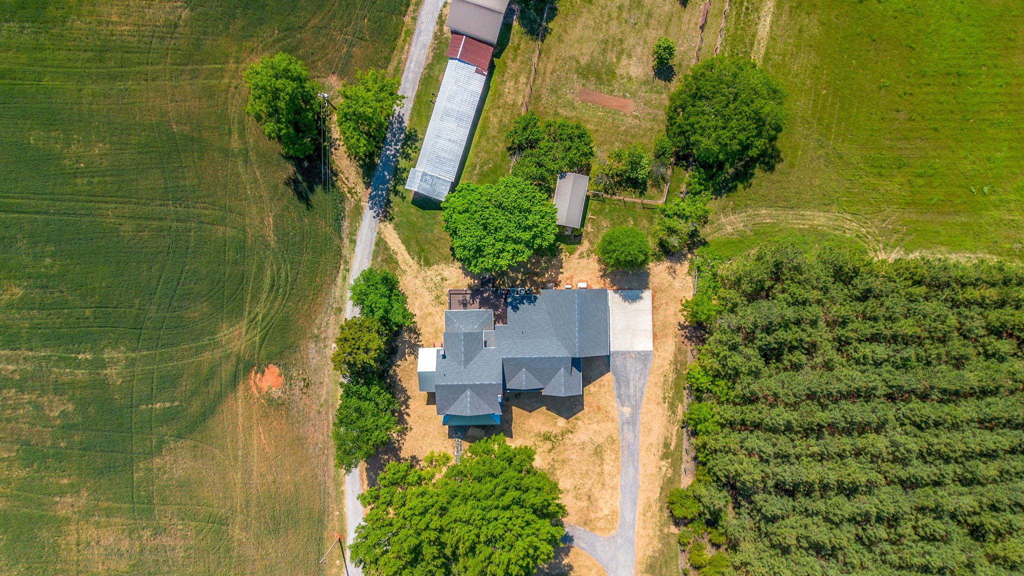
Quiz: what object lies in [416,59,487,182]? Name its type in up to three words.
barn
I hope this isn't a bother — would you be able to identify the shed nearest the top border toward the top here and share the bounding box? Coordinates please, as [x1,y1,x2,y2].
[447,0,510,45]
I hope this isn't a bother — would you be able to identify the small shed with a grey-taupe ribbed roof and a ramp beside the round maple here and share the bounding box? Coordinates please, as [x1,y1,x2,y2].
[553,172,589,238]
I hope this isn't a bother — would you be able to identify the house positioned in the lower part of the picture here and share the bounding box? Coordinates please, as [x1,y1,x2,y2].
[418,289,610,426]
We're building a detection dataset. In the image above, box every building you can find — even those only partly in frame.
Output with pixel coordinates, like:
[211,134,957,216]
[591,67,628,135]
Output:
[553,172,589,238]
[418,289,610,426]
[447,0,510,45]
[416,59,487,182]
